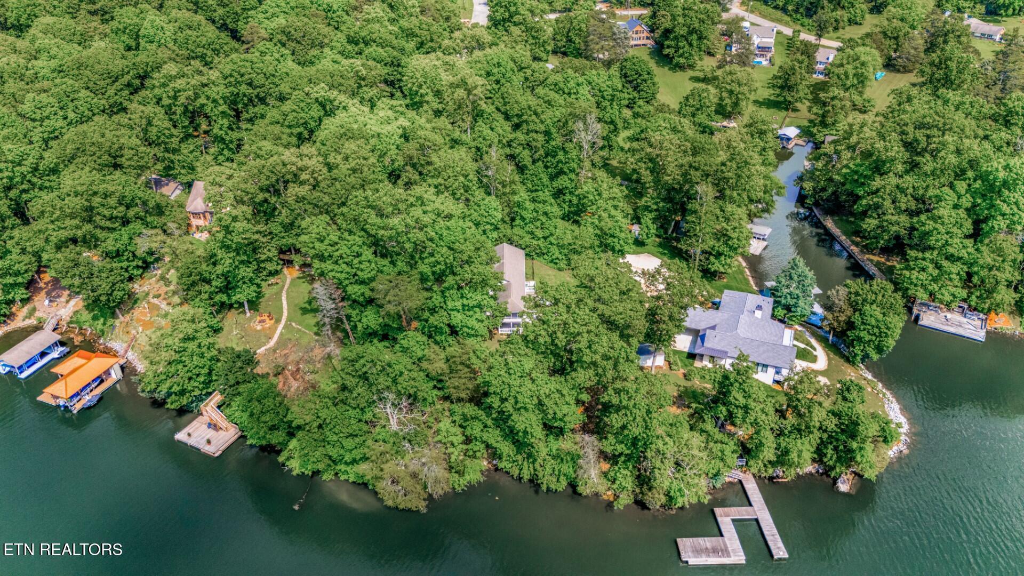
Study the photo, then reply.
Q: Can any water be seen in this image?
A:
Yes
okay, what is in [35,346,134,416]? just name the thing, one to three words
building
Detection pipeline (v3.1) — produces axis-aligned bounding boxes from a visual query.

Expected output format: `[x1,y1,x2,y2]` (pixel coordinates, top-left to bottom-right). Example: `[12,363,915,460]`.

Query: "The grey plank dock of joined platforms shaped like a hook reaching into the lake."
[677,471,790,567]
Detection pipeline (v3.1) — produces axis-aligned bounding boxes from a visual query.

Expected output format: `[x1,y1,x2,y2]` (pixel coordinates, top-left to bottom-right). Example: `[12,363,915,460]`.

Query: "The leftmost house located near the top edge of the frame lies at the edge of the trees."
[620,14,659,47]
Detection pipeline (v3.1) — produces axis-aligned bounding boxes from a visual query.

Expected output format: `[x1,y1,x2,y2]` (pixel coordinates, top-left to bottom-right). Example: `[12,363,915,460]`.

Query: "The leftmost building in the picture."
[0,330,75,380]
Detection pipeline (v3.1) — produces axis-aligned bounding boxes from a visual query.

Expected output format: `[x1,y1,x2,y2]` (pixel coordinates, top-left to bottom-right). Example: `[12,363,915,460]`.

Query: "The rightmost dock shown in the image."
[912,299,988,345]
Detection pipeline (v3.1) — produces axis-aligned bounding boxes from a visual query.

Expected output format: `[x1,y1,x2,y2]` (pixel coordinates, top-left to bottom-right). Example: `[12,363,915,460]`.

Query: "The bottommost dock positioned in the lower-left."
[173,415,246,465]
